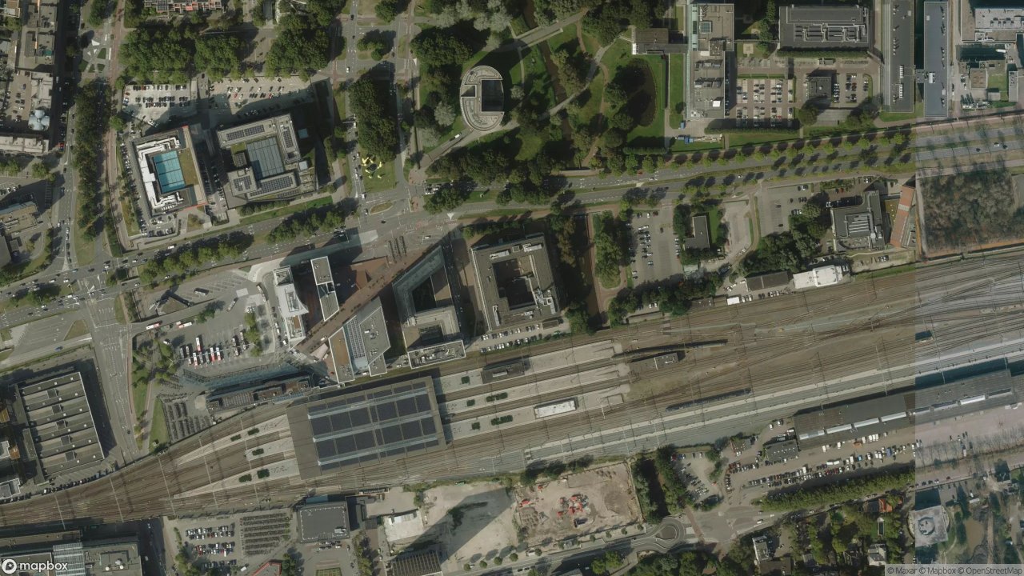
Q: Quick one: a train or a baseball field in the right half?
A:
train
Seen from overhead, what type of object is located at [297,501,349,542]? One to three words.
building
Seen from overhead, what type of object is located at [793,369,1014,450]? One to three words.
shed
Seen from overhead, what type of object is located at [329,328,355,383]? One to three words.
building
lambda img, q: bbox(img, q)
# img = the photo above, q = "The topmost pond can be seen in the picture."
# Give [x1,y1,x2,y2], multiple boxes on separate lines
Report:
[618,58,659,126]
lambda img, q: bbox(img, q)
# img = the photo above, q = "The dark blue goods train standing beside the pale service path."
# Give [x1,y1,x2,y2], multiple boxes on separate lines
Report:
[667,389,752,411]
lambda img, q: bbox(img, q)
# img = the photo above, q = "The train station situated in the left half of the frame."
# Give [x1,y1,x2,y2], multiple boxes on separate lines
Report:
[177,340,630,499]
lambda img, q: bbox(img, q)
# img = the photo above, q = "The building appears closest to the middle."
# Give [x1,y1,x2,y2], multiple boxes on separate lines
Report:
[472,233,560,331]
